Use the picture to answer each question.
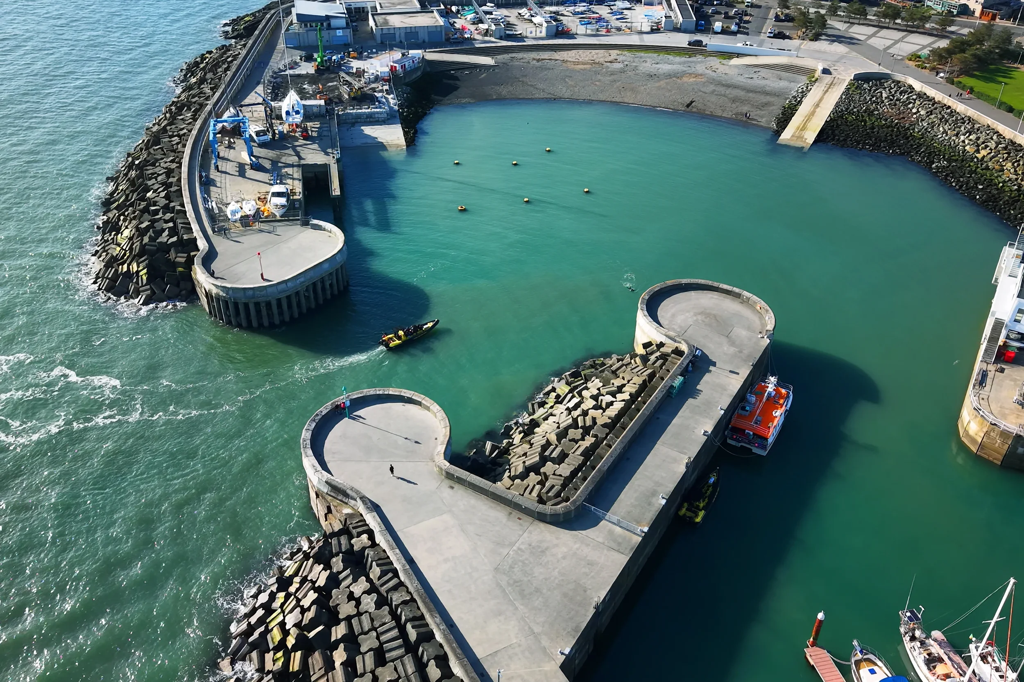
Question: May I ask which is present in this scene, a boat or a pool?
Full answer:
I can see a boat in this picture.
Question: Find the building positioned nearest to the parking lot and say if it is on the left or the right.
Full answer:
The building positioned nearest to the parking lot appears in the right half of the scene.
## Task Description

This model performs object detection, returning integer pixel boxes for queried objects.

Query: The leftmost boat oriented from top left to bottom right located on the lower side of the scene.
[855,646,907,682]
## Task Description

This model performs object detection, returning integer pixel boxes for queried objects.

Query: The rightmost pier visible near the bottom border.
[802,647,843,682]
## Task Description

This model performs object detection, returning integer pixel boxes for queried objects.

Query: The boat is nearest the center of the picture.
[375,314,440,350]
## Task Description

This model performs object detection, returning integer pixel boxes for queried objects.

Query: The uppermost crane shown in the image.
[308,15,331,71]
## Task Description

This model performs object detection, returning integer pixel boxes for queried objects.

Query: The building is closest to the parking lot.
[667,0,698,32]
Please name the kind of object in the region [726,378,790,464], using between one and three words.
boat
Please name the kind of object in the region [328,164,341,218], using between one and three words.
pier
